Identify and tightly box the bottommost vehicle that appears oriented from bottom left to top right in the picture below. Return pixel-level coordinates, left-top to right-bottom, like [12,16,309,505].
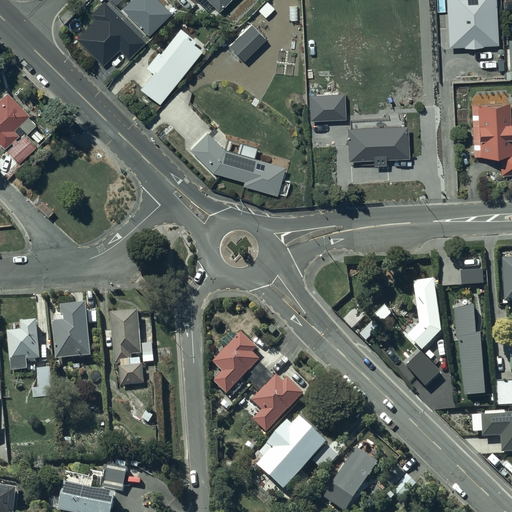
[402,458,416,473]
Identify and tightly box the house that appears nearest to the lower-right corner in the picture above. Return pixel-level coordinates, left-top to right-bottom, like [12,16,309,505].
[482,412,512,470]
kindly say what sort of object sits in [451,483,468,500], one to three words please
vehicle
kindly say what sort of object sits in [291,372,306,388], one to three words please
car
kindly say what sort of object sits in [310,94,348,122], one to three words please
building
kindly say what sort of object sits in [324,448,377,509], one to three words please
house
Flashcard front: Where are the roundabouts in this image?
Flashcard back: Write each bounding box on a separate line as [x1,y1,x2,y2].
[220,230,259,268]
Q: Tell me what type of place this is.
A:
residential area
